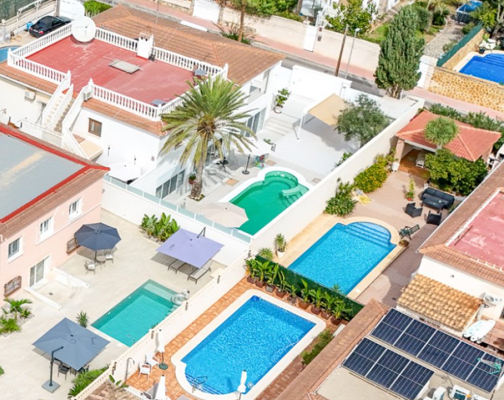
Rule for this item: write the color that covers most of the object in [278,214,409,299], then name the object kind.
blue swimming pool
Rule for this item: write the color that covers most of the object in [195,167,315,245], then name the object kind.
green swimming pool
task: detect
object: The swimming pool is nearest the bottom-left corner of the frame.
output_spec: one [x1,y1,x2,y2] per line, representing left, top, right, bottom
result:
[84,275,187,347]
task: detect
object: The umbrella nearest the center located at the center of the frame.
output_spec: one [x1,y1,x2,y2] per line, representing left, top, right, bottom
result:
[204,204,250,234]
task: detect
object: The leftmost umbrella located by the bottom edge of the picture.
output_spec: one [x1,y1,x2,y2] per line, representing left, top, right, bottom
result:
[32,319,111,394]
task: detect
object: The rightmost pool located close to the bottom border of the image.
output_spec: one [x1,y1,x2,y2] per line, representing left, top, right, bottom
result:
[166,288,327,400]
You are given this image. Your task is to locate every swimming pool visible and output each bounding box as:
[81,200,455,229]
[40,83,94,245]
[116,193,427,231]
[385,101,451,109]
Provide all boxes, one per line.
[0,41,31,63]
[195,167,315,245]
[278,214,409,299]
[448,50,504,87]
[166,288,327,400]
[84,275,187,347]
